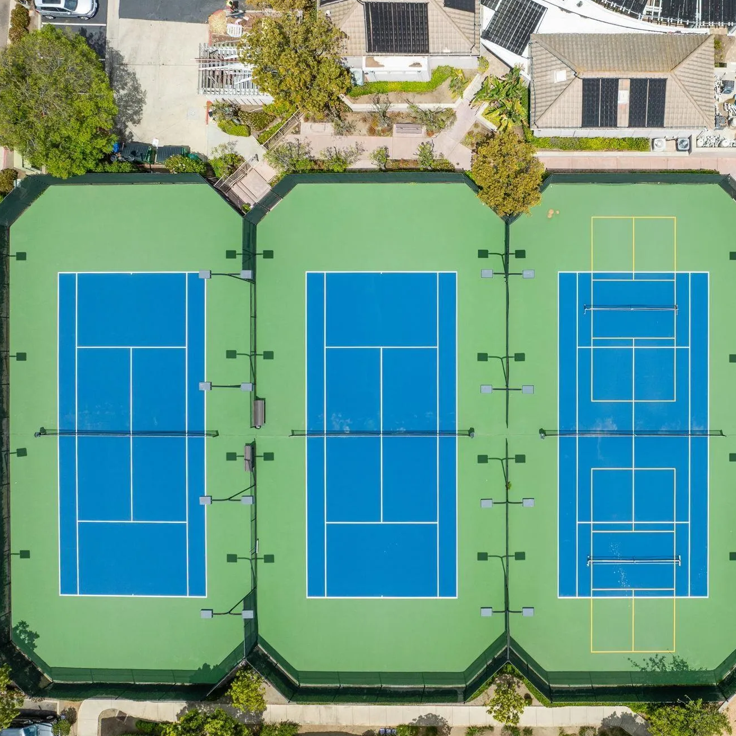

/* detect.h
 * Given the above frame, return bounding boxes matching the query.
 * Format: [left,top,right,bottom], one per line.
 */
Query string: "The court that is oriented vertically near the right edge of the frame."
[509,183,736,686]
